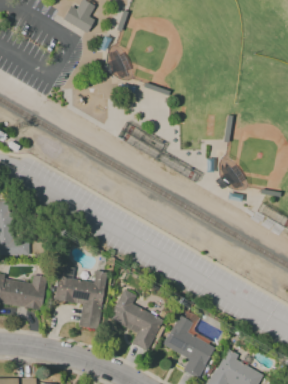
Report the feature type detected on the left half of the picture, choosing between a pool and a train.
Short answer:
pool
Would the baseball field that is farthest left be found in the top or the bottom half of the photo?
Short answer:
top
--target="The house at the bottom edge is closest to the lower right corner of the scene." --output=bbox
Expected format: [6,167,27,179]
[205,346,264,384]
